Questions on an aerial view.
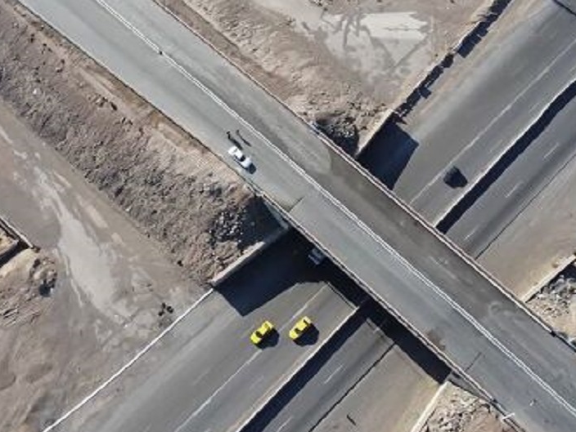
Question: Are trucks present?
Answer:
No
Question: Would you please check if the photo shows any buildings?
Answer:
No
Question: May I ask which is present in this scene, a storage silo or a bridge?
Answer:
bridge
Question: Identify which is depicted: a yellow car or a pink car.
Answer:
yellow car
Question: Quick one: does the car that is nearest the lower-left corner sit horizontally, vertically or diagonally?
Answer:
diagonally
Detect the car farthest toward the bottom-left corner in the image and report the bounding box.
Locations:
[250,322,273,345]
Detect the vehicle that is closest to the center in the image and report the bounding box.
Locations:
[306,247,324,267]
